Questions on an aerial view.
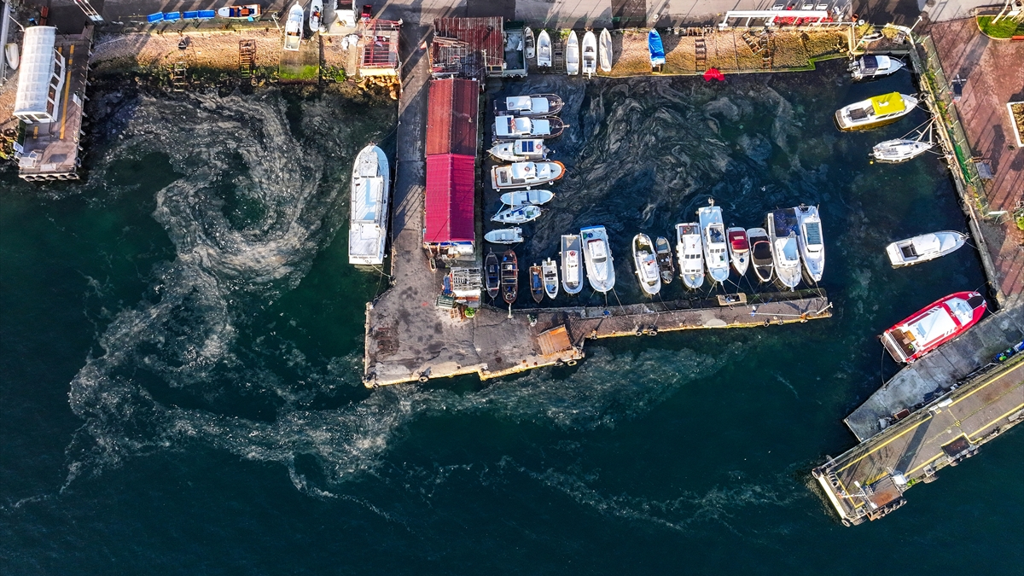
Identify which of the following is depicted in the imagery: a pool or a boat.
boat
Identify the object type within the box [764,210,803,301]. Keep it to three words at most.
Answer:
boat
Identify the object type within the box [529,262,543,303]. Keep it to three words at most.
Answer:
boat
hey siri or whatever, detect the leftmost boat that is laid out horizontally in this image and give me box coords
[218,4,261,20]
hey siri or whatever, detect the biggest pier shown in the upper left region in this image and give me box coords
[18,31,96,183]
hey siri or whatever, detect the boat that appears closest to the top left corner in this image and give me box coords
[5,41,19,72]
